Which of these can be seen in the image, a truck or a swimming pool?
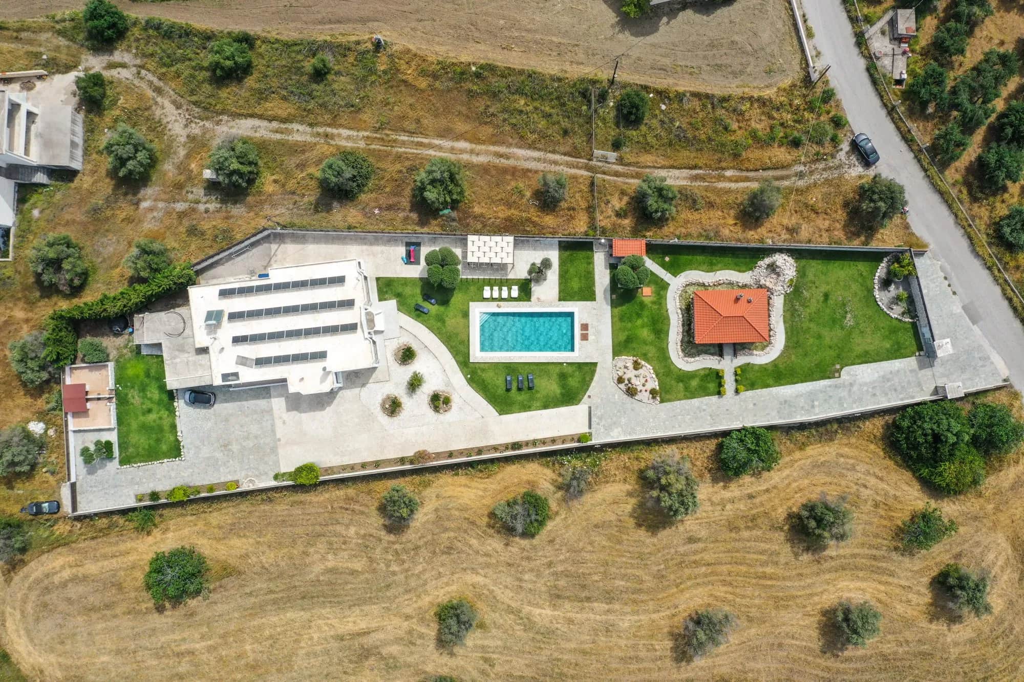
swimming pool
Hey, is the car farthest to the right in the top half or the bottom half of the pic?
top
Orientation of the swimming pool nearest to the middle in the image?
horizontally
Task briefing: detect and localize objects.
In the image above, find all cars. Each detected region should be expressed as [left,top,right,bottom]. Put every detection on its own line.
[852,132,880,165]
[27,500,62,515]
[184,390,217,406]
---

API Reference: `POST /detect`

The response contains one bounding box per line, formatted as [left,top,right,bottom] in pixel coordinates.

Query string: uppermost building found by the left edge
[0,90,85,183]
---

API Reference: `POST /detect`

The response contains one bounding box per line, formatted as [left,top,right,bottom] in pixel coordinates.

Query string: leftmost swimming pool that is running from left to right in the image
[476,308,579,357]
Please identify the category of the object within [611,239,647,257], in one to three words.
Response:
shed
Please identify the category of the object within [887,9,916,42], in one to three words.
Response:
shed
